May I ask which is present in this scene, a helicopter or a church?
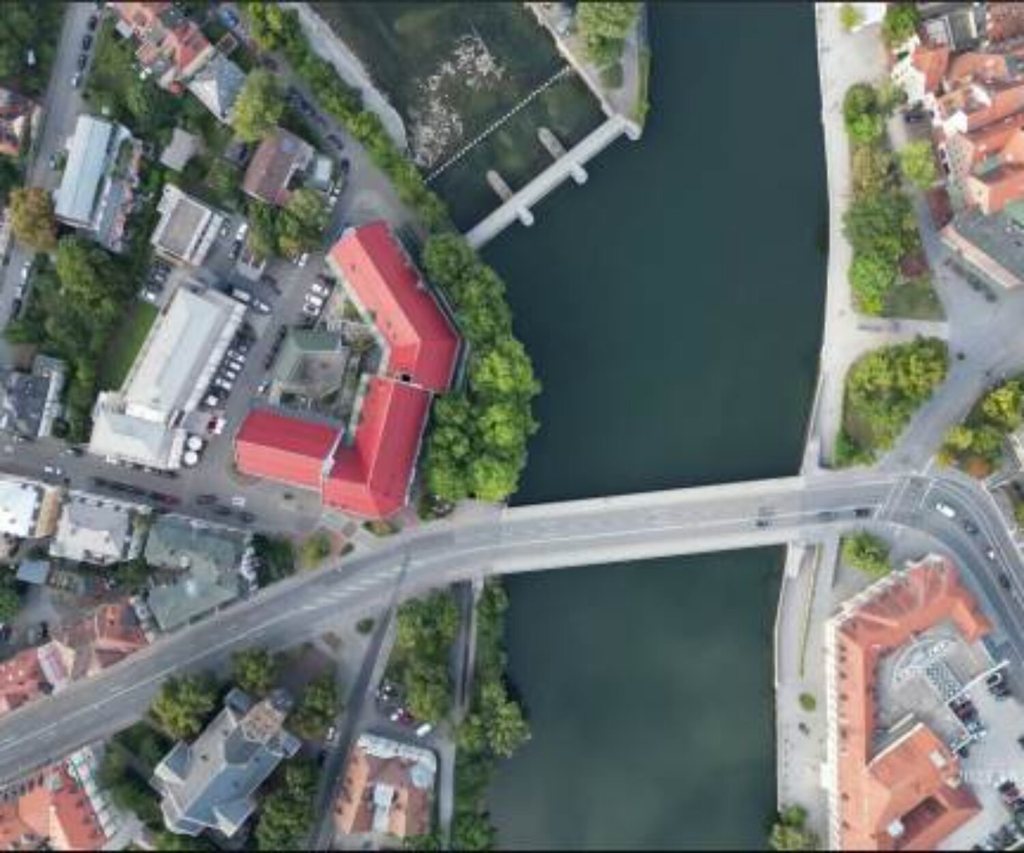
church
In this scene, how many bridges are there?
1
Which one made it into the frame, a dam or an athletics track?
dam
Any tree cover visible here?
Yes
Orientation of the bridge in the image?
from side to side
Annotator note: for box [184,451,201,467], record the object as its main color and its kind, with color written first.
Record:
white umbrella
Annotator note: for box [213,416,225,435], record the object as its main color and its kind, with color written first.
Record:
white vehicle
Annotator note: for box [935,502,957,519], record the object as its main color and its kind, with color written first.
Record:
white vehicle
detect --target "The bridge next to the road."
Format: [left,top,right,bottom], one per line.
[501,473,807,575]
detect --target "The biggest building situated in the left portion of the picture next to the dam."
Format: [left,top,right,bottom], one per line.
[237,221,465,518]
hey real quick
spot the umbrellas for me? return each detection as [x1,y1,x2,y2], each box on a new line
[184,451,201,467]
[188,435,204,451]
